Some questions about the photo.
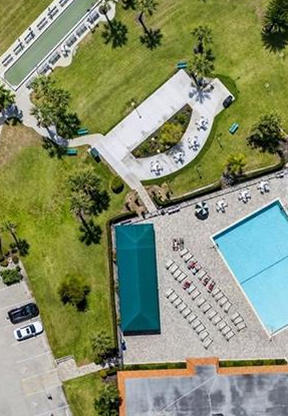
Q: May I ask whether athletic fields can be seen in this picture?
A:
No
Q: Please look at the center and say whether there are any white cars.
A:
No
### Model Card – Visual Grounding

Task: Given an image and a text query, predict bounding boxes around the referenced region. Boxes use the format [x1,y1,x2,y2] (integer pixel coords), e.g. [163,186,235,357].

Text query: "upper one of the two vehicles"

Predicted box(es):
[7,303,40,322]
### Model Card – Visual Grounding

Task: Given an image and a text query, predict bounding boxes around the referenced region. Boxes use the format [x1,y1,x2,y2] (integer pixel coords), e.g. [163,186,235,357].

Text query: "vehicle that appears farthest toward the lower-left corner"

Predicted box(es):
[13,322,44,340]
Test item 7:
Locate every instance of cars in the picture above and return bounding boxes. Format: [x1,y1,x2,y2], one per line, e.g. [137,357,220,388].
[7,303,40,322]
[13,322,44,340]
